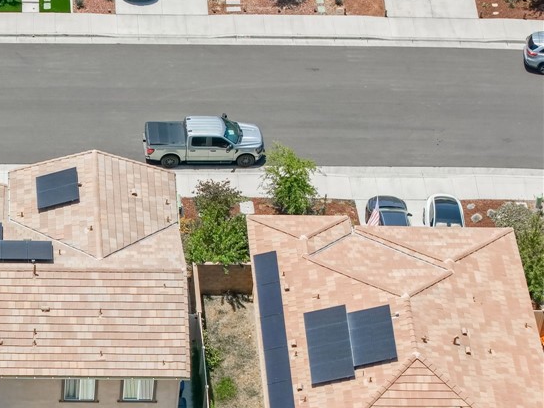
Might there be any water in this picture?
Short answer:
No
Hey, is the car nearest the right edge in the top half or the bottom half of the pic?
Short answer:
top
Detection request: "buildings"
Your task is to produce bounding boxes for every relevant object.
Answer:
[0,148,192,408]
[246,214,544,408]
